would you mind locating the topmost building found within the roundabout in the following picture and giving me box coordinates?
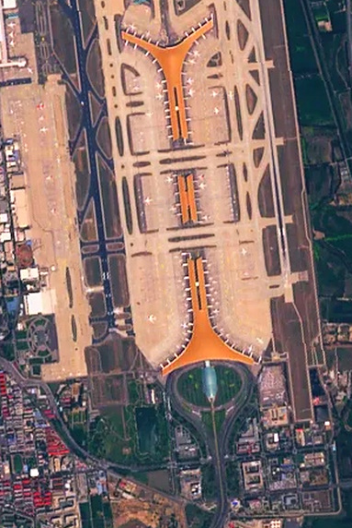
[202,361,217,402]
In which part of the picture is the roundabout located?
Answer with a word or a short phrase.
bottom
